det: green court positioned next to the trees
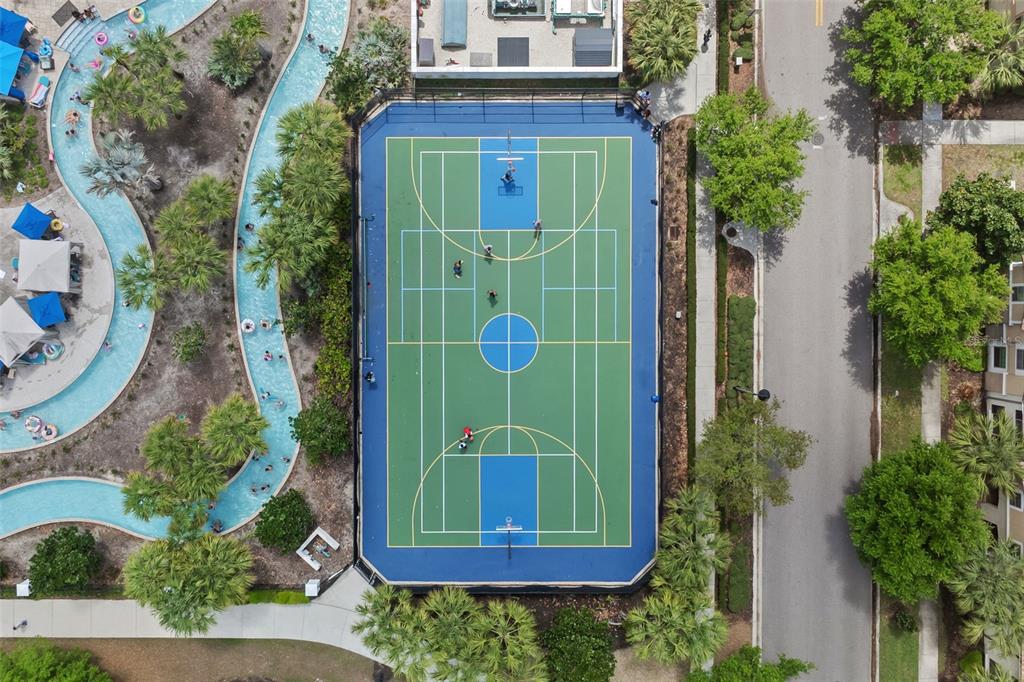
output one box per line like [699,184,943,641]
[360,100,658,583]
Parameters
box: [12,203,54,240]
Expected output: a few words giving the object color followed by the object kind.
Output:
blue umbrella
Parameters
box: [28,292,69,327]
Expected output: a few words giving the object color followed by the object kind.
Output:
blue umbrella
